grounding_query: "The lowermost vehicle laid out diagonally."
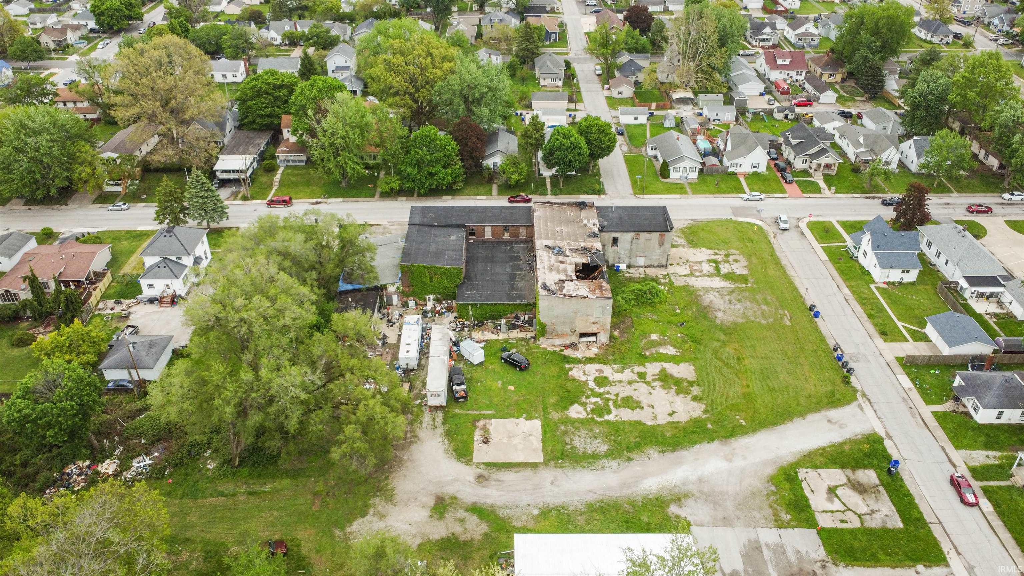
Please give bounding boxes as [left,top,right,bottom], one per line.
[948,473,981,511]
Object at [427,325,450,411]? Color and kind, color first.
white trailer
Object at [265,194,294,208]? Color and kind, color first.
red vehicle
